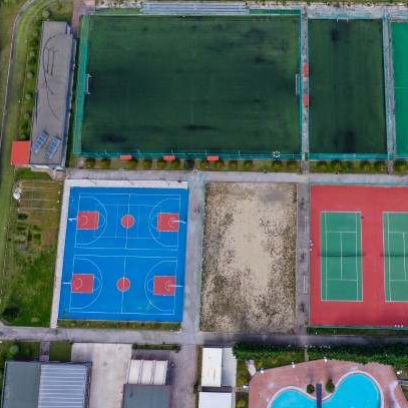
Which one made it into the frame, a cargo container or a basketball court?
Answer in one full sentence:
There is a basketball court in the scene.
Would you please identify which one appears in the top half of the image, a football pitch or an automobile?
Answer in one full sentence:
Visible in the top half of the image is a football pitch.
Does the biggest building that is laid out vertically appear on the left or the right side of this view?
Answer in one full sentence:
The biggest building that is laid out vertically appears in the left half of the scene.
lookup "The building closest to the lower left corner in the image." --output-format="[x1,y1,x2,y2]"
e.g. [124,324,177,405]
[1,359,97,408]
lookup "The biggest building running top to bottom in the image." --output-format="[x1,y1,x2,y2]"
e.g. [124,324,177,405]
[11,21,77,172]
